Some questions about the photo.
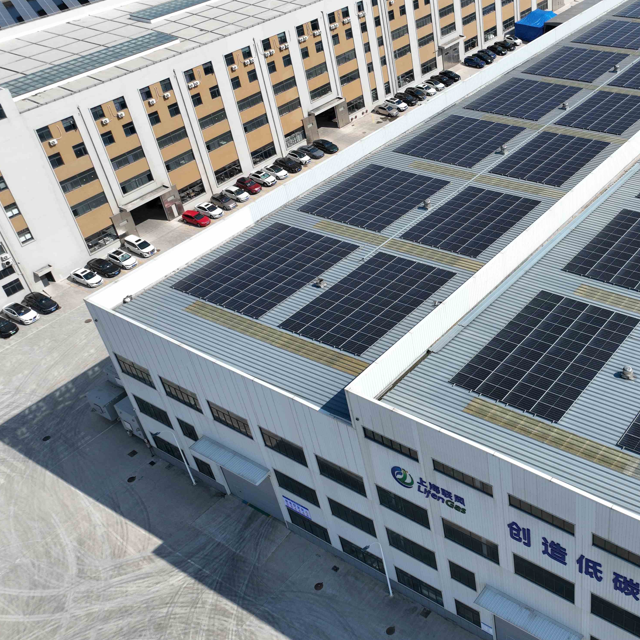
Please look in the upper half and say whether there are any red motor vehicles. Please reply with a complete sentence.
Yes, the scene does show a red motor vehicle in the upper half.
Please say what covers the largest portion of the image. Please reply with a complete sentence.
The bulk of the photo consists of buildings.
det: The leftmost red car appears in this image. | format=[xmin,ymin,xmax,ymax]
[183,210,211,229]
